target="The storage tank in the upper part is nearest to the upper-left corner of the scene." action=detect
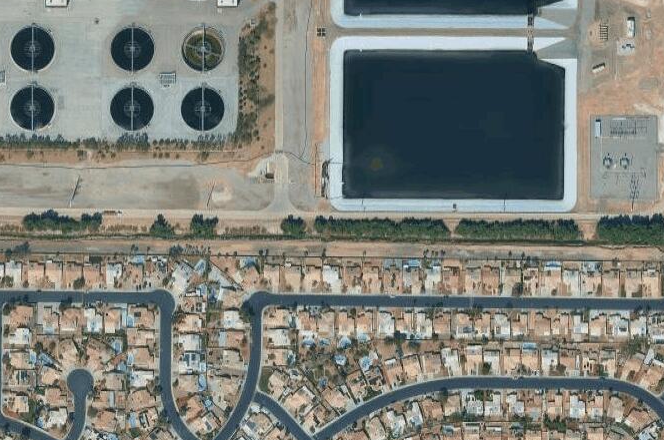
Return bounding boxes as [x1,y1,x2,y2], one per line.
[10,23,55,72]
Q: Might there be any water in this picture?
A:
Yes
